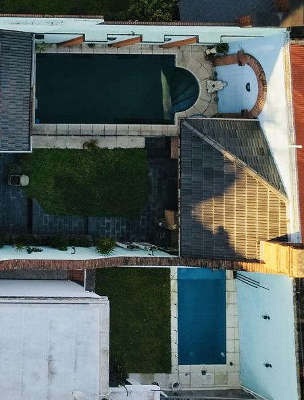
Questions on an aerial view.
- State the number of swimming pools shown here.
2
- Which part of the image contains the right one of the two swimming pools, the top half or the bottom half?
bottom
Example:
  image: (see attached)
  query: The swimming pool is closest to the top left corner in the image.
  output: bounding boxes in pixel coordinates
[35,42,213,147]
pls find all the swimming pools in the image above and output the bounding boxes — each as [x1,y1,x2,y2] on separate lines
[128,267,241,388]
[35,42,213,147]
